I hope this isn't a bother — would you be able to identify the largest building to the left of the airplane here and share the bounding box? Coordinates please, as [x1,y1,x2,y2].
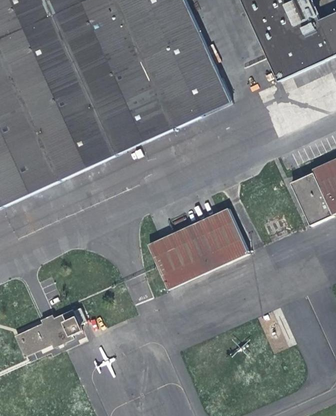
[16,314,88,362]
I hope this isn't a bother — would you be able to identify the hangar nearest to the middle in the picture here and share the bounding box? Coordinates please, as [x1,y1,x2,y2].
[148,208,249,292]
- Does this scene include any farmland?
No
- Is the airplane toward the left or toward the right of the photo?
left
